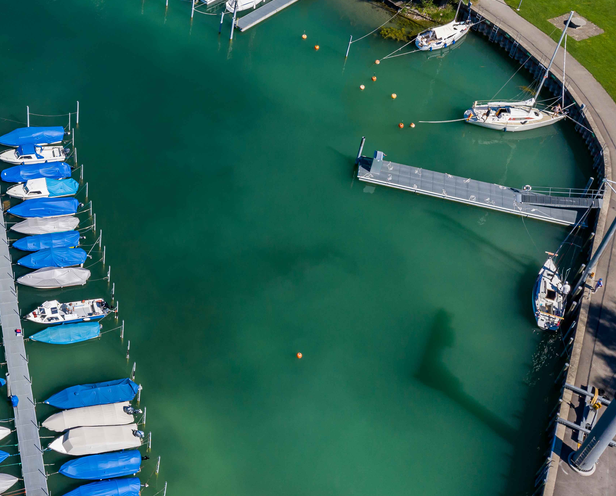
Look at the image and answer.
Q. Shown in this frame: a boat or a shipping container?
boat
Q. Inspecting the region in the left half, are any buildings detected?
No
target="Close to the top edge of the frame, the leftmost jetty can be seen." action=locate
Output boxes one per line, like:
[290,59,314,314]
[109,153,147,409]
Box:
[231,0,299,32]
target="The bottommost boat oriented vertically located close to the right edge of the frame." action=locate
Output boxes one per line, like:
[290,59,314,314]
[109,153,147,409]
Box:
[527,203,592,361]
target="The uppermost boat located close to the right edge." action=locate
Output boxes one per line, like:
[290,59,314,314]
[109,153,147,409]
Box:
[423,8,599,138]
